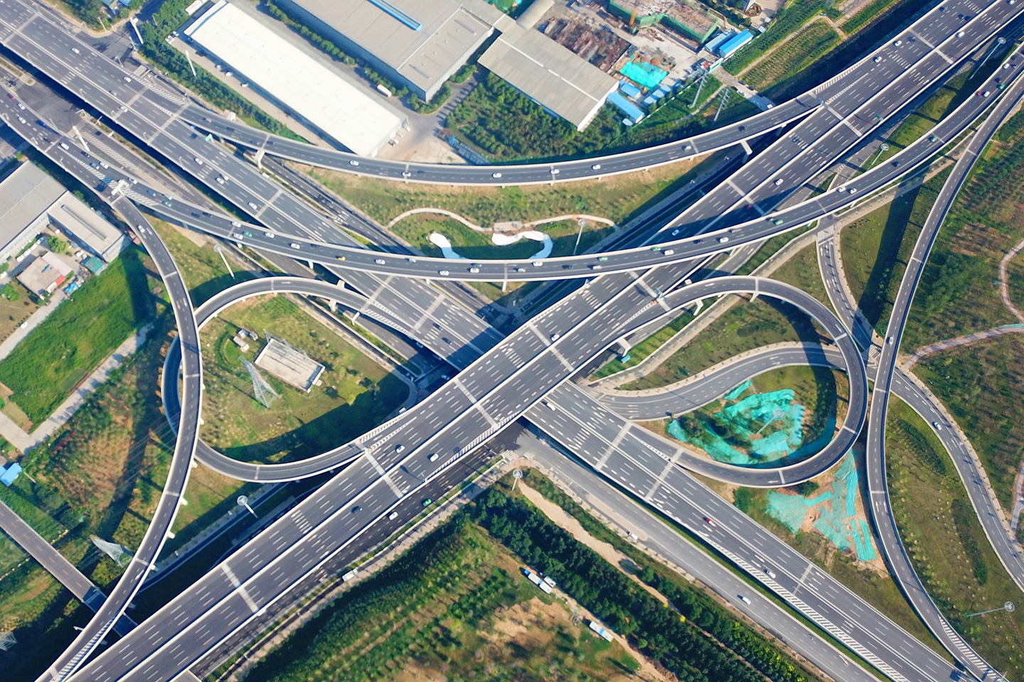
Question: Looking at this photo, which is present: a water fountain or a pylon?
pylon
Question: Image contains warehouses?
Yes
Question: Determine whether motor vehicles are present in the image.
Yes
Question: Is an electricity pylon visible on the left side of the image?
Yes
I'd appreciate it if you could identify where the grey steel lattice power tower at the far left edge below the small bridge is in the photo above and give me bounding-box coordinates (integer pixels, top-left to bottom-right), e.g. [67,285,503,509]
[0,623,25,657]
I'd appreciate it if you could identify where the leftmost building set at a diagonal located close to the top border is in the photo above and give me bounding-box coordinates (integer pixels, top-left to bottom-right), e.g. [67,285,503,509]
[184,0,401,157]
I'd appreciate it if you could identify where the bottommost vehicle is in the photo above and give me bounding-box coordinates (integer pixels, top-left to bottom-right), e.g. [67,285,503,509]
[587,620,616,644]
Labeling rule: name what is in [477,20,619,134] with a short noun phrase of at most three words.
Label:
warehouse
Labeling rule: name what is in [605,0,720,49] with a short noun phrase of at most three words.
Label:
building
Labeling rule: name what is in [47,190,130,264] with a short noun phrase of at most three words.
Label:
building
